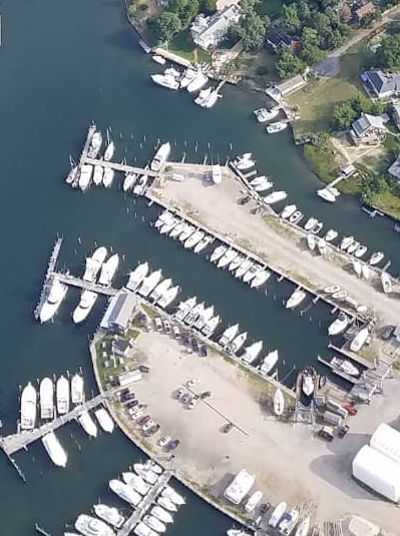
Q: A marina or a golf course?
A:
marina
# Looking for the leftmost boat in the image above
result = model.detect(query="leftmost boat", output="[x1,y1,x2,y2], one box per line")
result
[16,378,36,432]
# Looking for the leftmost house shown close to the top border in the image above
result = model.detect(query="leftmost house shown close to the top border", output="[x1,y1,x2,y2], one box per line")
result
[182,4,243,57]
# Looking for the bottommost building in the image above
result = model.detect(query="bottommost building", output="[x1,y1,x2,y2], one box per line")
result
[351,444,400,502]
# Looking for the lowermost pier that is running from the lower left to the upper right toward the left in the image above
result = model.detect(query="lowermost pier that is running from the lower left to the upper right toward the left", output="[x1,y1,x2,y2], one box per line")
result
[113,468,175,536]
